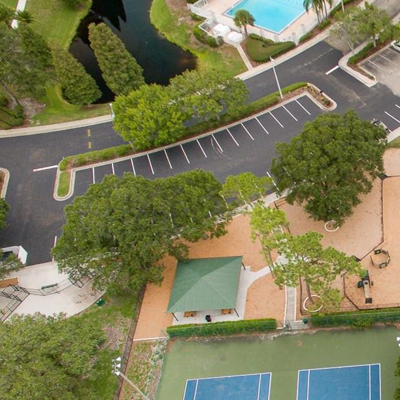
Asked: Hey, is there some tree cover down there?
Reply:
Yes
